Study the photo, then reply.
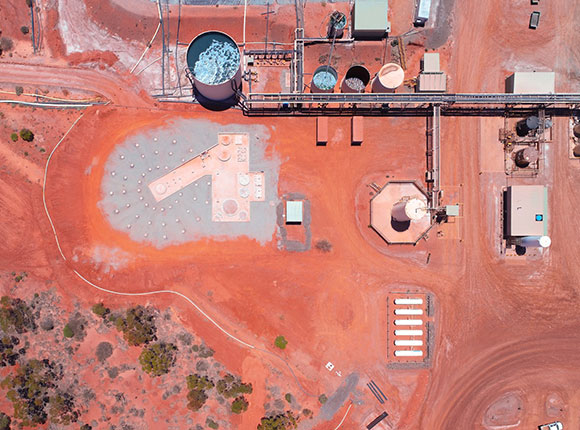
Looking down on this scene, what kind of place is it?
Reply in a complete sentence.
This image shows an industrial area.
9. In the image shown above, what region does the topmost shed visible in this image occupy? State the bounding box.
[353,0,388,36]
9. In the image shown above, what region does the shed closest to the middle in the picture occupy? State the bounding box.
[287,201,304,222]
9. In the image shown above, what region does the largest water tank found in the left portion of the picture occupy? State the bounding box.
[186,32,245,101]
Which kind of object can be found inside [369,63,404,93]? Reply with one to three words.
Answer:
storage tank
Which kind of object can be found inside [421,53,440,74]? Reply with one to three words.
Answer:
building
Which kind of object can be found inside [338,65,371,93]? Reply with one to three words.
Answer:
storage tank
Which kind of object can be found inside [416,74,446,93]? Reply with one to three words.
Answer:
building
